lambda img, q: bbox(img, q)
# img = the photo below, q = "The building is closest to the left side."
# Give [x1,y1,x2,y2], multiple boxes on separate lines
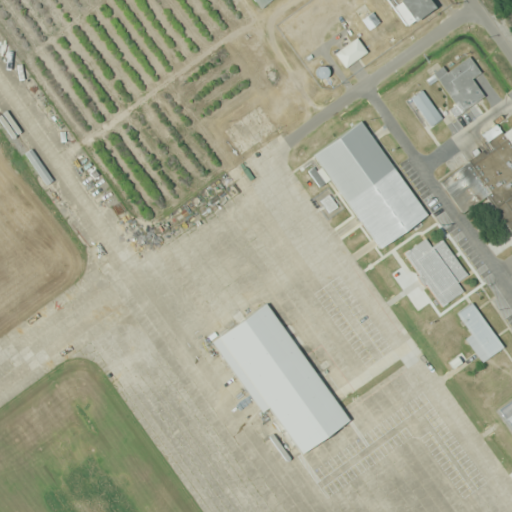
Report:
[26,148,54,185]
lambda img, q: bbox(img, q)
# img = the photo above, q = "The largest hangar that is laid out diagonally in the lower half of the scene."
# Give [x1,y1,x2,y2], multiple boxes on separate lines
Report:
[214,304,350,454]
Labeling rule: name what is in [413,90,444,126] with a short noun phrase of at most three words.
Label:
building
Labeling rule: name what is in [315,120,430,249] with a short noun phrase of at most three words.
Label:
hangar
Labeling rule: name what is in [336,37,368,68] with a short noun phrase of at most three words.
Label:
house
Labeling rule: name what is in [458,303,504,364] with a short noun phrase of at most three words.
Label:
building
